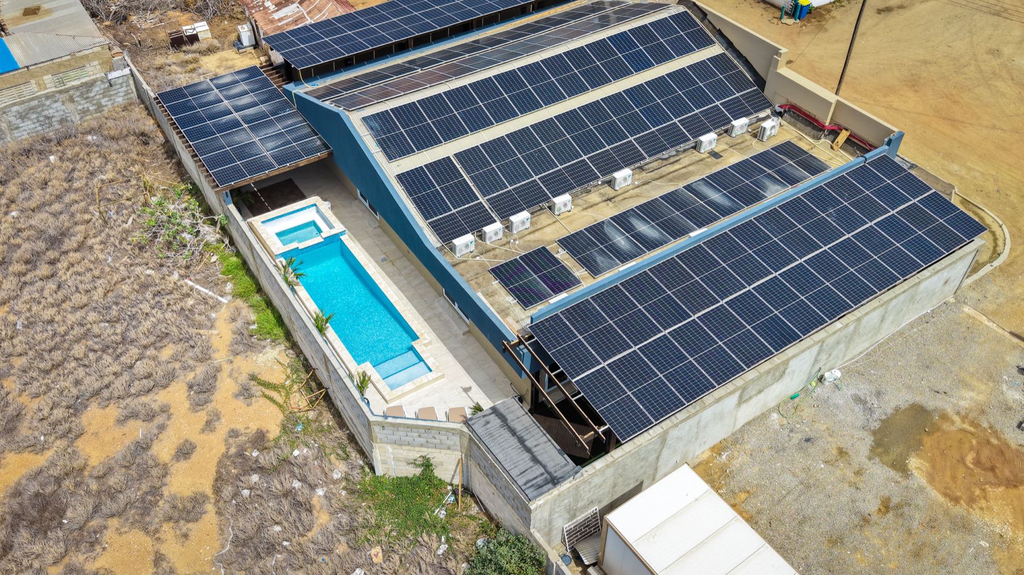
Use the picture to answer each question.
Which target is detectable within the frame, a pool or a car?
pool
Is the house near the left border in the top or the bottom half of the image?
top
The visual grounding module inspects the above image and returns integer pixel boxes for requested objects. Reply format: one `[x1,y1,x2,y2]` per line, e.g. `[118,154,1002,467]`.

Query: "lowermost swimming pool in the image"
[276,233,444,405]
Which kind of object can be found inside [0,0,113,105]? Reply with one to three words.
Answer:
house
